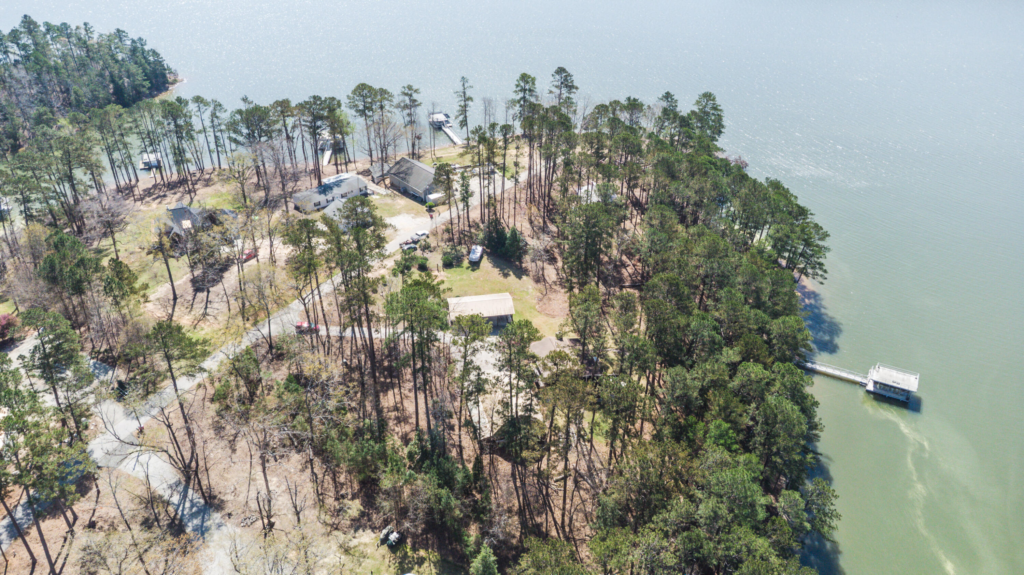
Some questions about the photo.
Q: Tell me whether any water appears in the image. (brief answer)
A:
Yes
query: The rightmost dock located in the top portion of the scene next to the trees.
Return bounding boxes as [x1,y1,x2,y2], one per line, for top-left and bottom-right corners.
[428,113,462,143]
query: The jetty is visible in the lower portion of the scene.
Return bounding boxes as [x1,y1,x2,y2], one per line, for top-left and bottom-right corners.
[800,359,919,410]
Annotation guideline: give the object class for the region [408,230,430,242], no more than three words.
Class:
vehicle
